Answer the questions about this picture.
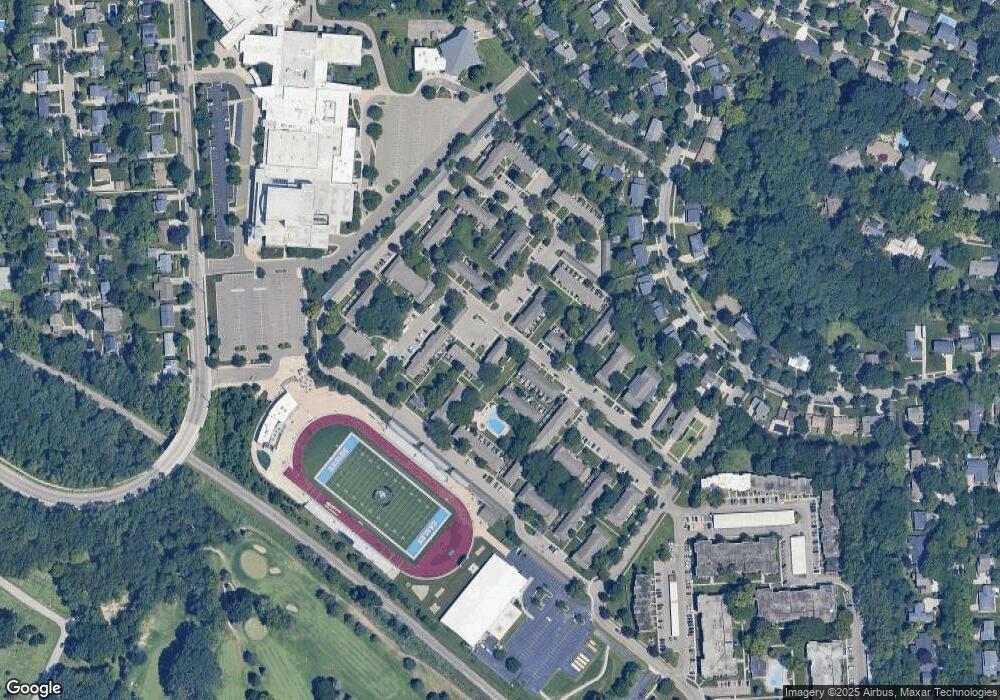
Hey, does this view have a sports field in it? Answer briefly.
Yes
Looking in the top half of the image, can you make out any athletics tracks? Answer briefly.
No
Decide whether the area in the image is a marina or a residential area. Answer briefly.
residential area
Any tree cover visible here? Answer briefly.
Yes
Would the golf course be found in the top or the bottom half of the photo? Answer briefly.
bottom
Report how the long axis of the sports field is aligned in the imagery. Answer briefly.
at an angle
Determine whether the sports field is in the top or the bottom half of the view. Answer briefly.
bottom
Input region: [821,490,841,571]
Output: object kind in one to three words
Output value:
building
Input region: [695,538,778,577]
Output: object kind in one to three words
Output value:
building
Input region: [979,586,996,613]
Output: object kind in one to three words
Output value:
house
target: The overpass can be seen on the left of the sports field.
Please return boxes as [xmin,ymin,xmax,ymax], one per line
[154,413,205,472]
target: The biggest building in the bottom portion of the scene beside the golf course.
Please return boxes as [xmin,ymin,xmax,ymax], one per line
[439,555,534,647]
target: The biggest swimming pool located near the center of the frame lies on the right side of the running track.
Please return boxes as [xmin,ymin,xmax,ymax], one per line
[472,401,510,438]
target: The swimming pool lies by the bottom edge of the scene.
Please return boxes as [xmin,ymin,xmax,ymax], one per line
[766,657,790,696]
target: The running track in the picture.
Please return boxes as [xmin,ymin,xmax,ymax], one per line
[282,413,474,579]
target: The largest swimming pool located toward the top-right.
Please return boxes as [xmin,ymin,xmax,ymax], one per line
[866,132,909,164]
